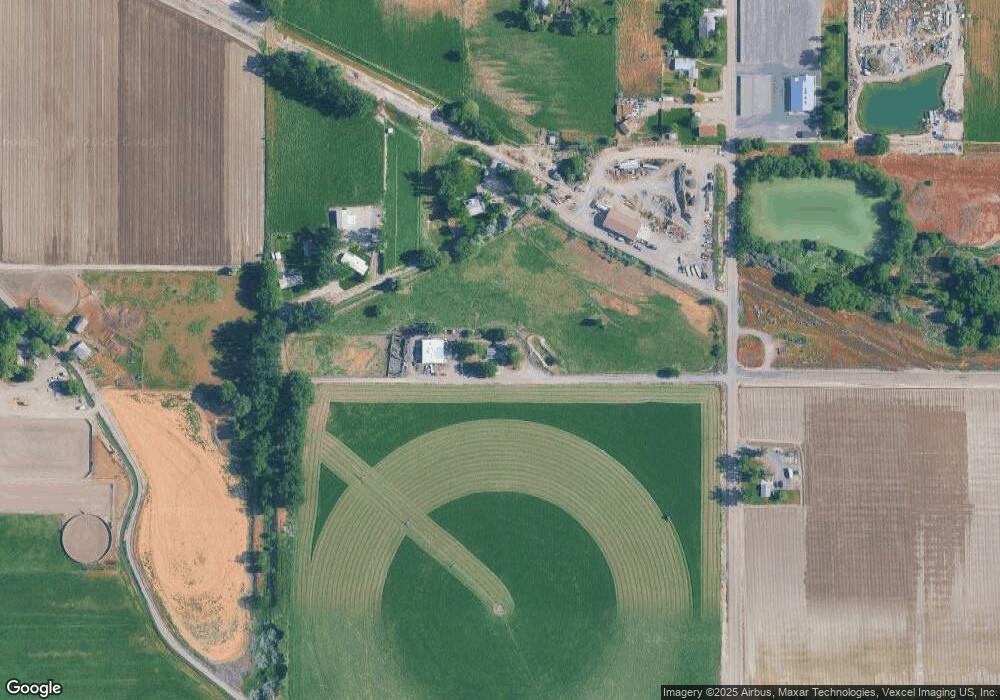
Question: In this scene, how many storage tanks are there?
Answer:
1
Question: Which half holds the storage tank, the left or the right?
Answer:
left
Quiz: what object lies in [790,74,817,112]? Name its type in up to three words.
building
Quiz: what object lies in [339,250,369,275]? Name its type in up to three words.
house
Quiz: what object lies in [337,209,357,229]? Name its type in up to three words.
barn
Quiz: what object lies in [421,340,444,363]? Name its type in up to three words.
barn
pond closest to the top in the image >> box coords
[857,64,950,135]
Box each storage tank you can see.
[61,515,110,564]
